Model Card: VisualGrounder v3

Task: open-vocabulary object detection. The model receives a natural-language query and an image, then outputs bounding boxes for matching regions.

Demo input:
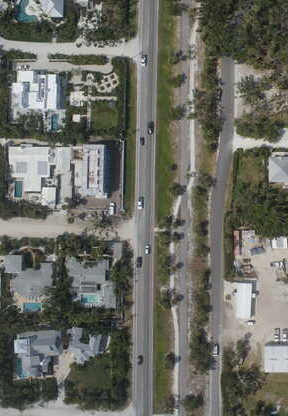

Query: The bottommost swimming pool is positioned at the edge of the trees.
[13,356,56,380]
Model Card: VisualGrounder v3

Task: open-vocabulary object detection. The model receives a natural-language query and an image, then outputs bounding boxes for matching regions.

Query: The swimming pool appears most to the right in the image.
[72,293,96,308]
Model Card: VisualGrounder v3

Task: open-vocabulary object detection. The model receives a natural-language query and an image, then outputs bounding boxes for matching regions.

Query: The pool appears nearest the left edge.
[7,177,25,201]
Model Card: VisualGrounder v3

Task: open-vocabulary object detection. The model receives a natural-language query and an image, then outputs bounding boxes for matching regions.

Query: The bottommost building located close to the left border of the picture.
[14,329,67,378]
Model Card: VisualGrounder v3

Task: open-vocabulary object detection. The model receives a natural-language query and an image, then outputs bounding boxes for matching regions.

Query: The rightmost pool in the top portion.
[44,110,66,132]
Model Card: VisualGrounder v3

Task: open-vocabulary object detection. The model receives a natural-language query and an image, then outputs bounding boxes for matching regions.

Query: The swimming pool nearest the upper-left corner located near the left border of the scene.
[14,0,58,24]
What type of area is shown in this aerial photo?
residential area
